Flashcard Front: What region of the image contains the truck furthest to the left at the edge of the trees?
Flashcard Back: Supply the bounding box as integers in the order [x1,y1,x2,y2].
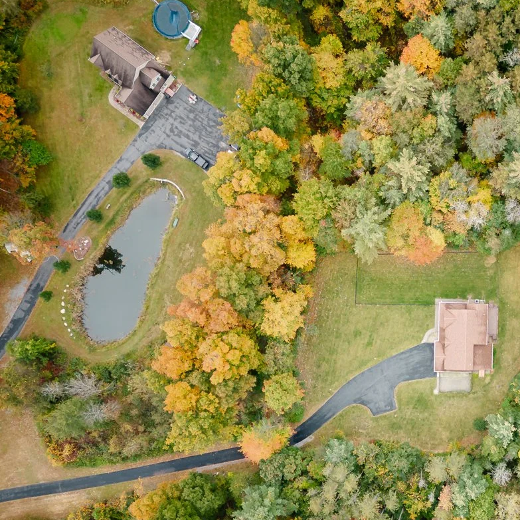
[183,147,209,169]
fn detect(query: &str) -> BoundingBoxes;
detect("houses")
[434,301,494,372]
[88,26,179,119]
